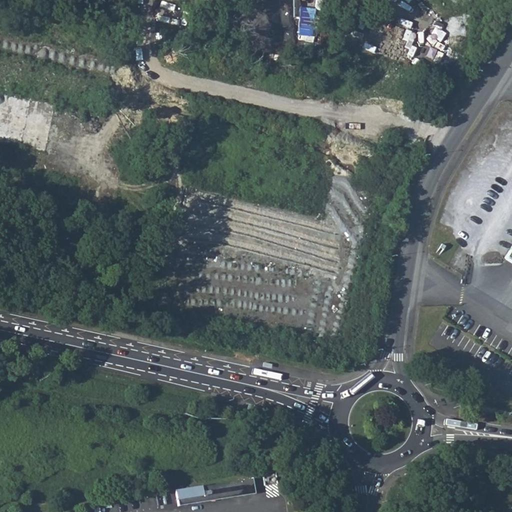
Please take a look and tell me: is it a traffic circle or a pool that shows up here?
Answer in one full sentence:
This aerial view contains a traffic circle.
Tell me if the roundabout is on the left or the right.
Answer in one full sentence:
The roundabout appears in the right half of the scene.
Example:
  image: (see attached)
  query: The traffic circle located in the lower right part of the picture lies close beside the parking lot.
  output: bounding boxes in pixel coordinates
[330,372,431,472]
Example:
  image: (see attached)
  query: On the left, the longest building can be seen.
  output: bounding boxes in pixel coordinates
[178,486,210,504]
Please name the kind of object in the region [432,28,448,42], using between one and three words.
camper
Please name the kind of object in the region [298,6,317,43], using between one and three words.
building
